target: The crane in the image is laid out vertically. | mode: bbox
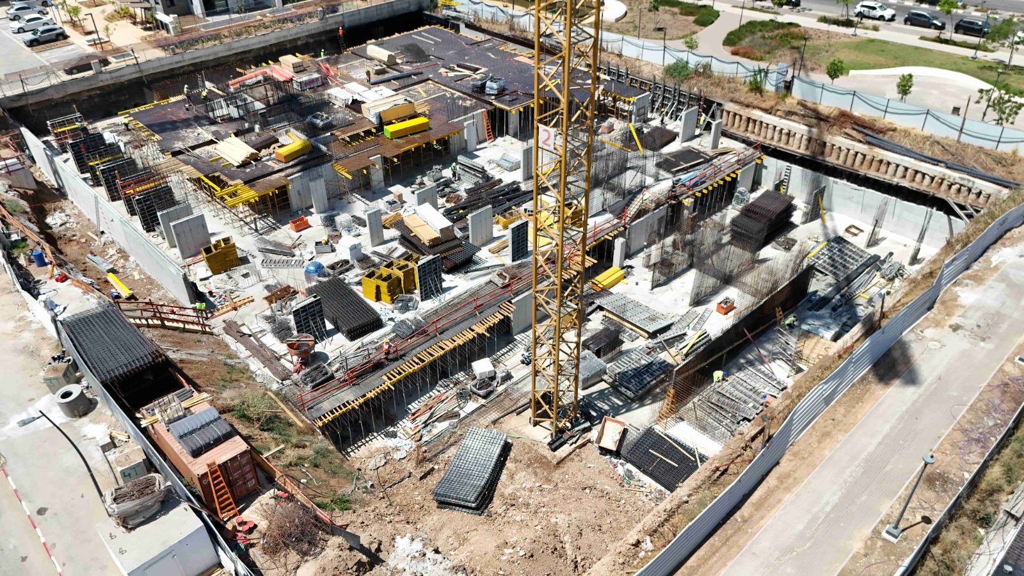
[528,0,604,444]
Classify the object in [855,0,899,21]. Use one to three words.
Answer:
car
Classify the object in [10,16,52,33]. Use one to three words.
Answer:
car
